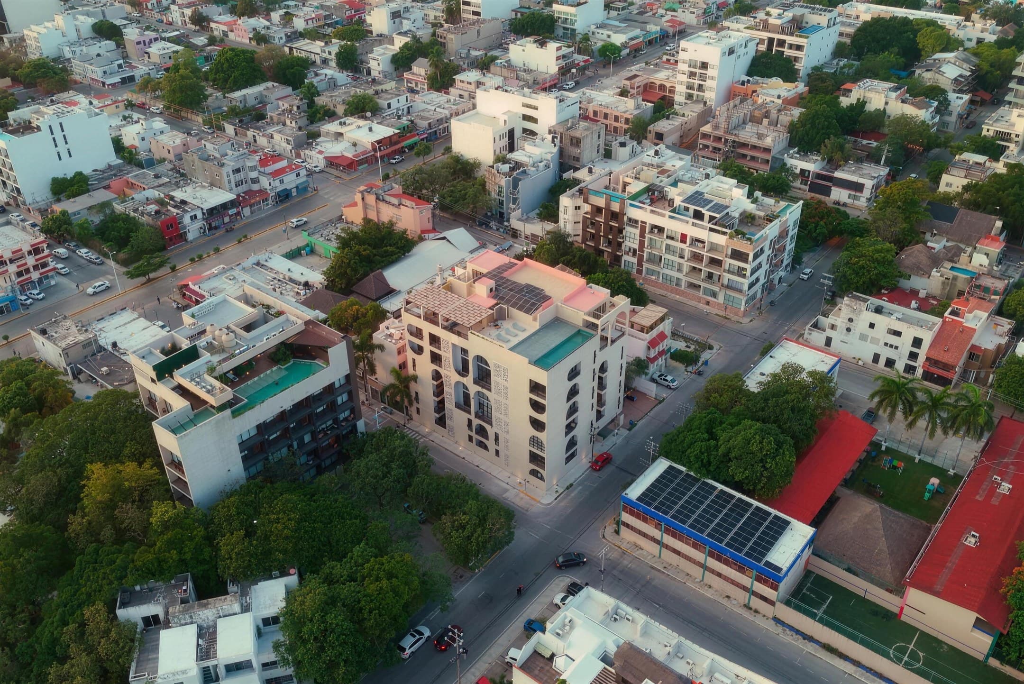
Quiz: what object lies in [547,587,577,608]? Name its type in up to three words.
car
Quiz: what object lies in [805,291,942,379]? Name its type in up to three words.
house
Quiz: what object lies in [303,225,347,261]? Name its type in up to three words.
building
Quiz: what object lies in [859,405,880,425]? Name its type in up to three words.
vehicle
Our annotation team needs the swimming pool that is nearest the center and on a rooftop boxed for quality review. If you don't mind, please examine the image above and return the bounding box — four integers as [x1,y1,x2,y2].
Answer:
[530,328,594,370]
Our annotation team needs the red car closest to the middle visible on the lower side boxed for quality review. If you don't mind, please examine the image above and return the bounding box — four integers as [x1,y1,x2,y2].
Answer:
[589,450,614,471]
